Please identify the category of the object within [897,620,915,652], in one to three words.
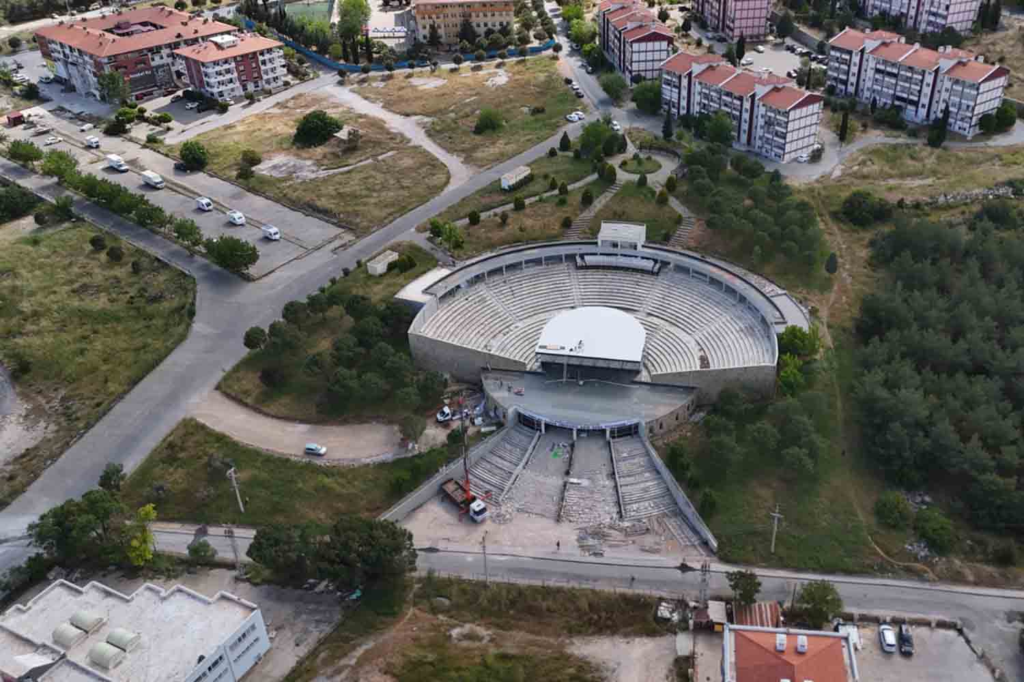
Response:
car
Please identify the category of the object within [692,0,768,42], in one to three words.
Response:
building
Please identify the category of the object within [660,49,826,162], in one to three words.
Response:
building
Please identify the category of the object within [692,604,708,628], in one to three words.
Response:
shed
